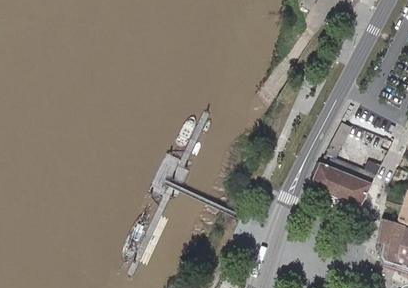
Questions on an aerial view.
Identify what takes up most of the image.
water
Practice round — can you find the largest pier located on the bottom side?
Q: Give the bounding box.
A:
[128,110,210,276]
